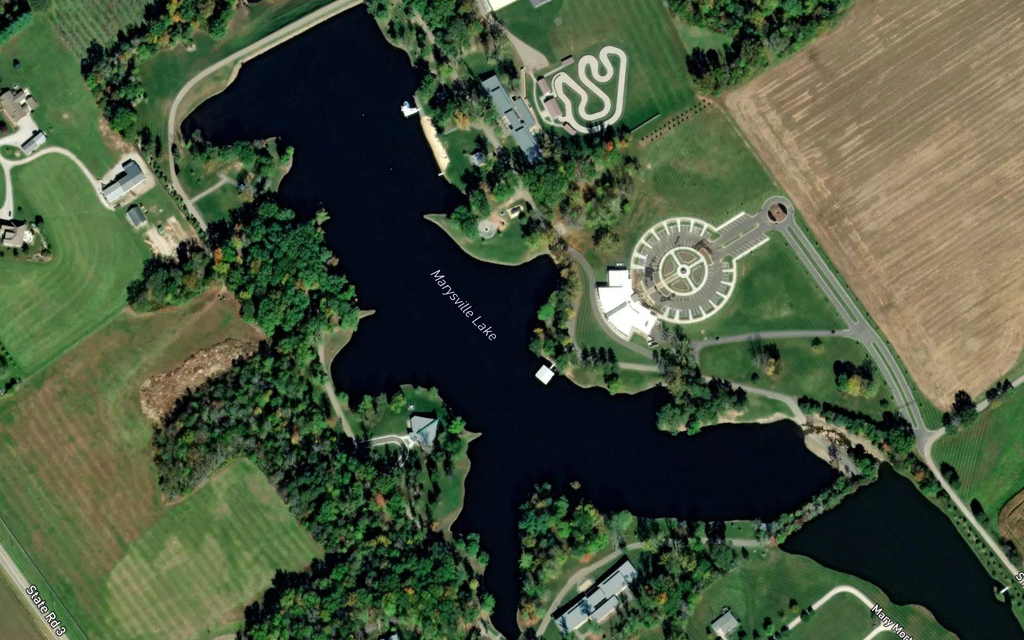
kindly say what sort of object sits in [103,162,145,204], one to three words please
barn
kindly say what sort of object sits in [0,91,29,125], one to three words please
house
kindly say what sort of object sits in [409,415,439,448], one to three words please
building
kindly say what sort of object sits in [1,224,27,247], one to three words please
house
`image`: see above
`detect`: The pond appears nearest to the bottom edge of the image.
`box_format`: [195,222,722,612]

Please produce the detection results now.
[779,461,1024,640]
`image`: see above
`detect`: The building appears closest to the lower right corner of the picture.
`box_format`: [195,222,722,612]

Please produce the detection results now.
[713,608,739,635]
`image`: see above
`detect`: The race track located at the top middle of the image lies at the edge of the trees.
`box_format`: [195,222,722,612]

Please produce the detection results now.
[554,45,628,135]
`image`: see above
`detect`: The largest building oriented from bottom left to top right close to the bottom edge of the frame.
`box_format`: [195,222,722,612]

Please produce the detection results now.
[556,561,638,632]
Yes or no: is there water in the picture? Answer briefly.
Yes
